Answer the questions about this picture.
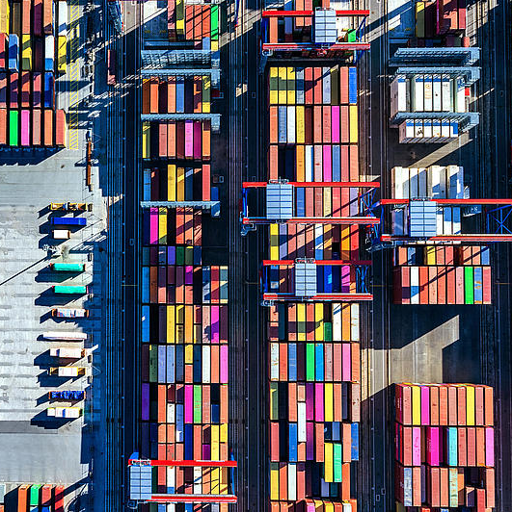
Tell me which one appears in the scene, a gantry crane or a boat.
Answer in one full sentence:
Visible in the photo is a gantry crane.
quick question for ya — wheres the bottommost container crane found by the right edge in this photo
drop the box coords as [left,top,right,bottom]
[365,195,512,257]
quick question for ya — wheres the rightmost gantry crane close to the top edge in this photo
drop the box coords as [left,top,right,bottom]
[259,5,369,76]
